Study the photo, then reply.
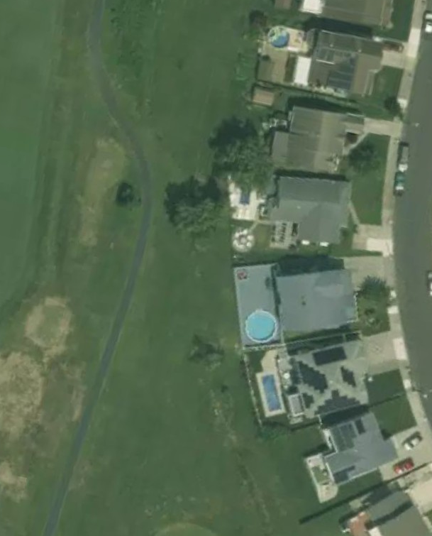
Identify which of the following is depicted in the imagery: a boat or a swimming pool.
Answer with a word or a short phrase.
swimming pool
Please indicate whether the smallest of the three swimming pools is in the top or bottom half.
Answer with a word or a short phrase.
top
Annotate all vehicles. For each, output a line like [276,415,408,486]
[392,458,415,474]
[382,42,404,52]
[394,171,404,194]
[398,141,410,170]
[402,432,424,449]
[424,11,432,33]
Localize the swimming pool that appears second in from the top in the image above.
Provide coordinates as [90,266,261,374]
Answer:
[245,310,277,342]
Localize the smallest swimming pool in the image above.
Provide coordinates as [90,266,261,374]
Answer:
[268,26,290,48]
